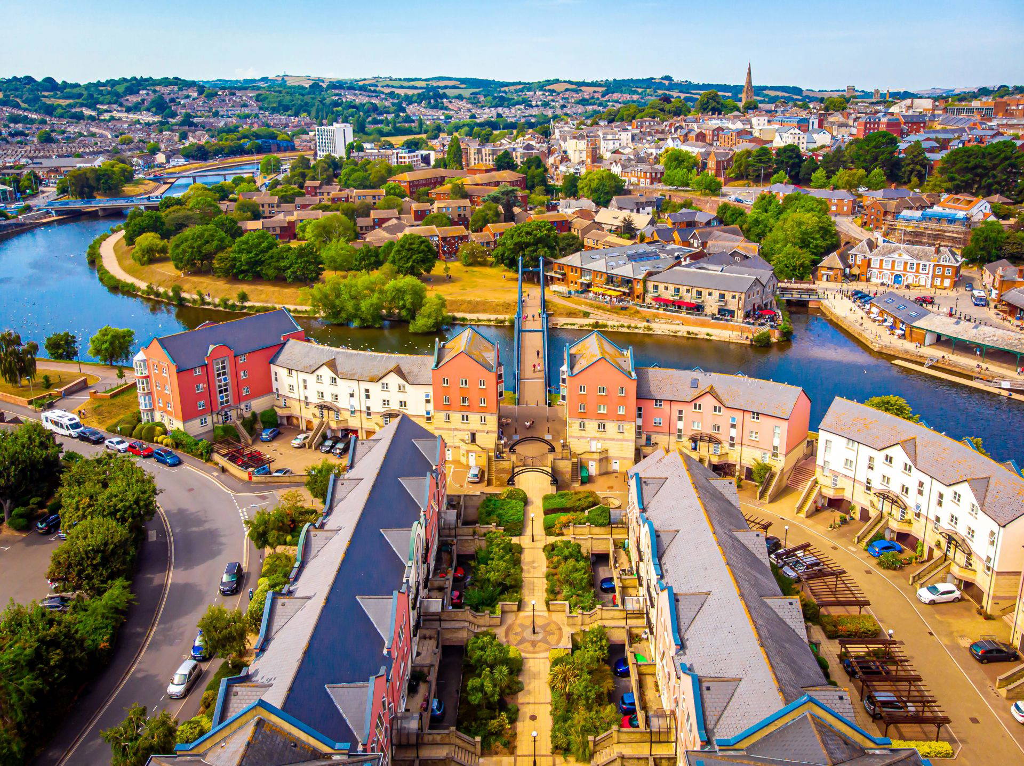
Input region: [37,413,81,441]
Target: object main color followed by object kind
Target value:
white camper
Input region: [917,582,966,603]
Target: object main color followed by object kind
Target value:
white car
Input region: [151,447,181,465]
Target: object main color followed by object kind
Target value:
blue car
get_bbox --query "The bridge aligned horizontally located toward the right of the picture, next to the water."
[784,281,835,299]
